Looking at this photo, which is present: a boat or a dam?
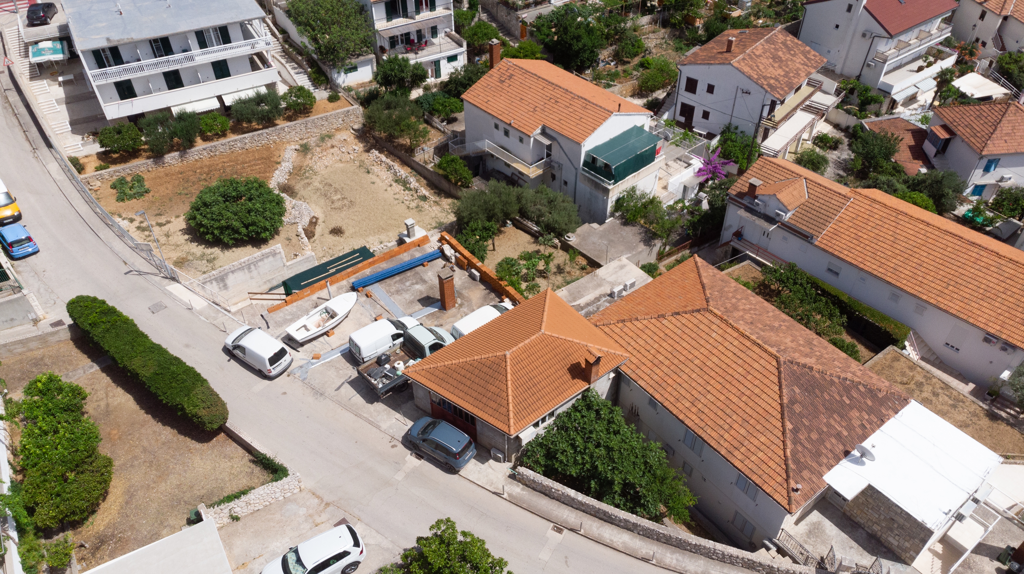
boat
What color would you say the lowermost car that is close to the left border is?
blue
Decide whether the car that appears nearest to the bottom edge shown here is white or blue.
white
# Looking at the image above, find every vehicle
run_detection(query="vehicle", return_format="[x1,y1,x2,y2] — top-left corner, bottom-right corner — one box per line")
[0,217,39,257]
[348,312,428,363]
[0,165,22,217]
[454,304,513,340]
[357,326,454,396]
[405,414,482,476]
[254,520,368,574]
[219,322,295,379]
[24,0,60,24]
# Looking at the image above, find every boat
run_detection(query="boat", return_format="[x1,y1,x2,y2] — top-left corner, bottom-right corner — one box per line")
[285,293,359,346]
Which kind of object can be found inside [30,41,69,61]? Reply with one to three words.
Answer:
umbrella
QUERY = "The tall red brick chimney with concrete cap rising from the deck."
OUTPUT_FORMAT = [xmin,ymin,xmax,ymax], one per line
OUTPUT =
[436,272,455,314]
